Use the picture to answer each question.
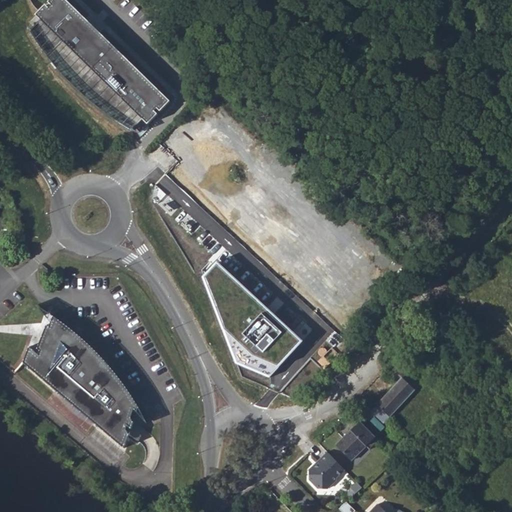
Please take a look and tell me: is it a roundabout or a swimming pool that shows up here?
roundabout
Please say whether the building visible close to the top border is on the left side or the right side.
left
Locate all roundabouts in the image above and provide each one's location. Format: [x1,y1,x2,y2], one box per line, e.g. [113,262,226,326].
[50,174,132,255]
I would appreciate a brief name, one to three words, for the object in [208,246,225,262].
vehicle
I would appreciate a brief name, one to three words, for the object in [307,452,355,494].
house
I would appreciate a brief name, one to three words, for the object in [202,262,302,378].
building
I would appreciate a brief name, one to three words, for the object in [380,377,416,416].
house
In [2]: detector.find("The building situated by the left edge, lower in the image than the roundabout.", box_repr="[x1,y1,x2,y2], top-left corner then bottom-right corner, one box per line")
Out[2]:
[24,304,147,446]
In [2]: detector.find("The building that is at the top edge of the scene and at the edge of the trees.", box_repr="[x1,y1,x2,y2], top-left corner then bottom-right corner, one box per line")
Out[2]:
[30,0,170,130]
